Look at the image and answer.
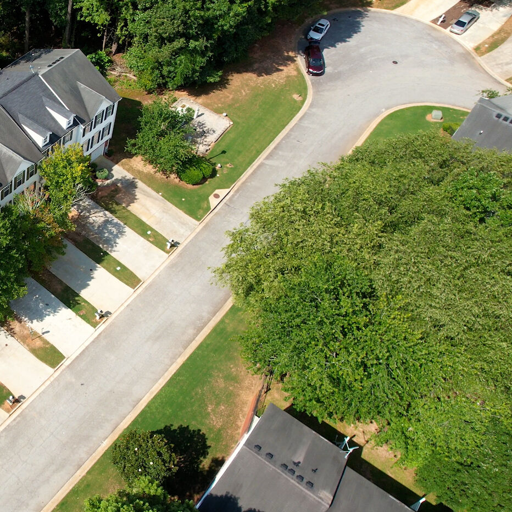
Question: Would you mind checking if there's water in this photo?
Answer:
No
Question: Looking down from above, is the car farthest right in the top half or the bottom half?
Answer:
top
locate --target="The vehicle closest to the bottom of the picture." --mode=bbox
[302,37,326,75]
